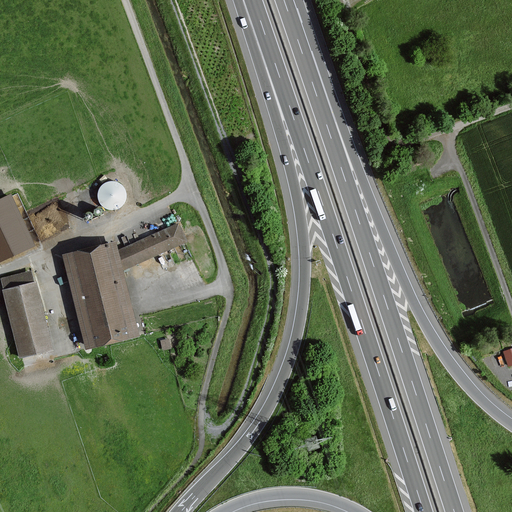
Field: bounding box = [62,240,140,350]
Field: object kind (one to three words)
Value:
barn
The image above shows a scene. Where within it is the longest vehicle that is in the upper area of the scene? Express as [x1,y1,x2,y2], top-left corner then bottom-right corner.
[309,188,326,220]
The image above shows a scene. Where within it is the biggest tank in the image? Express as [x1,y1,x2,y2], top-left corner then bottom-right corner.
[97,180,126,210]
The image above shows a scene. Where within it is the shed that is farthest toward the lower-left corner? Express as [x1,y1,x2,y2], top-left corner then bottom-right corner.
[2,282,52,358]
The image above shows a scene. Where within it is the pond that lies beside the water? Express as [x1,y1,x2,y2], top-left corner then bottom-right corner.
[424,196,491,316]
